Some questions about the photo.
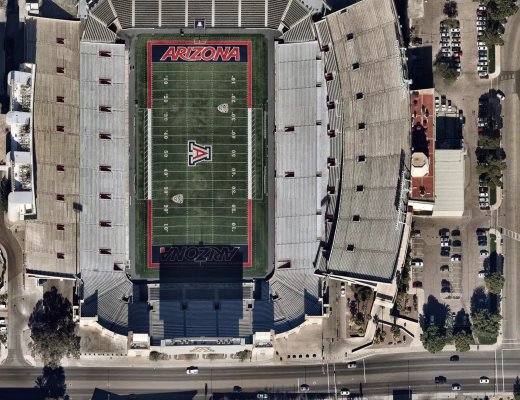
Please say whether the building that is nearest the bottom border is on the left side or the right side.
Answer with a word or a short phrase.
right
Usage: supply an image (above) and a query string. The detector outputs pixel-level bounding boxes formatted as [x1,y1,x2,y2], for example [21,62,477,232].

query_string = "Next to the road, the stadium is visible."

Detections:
[18,0,415,355]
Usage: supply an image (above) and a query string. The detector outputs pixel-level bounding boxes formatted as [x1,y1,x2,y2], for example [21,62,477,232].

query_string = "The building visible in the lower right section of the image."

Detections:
[373,287,396,309]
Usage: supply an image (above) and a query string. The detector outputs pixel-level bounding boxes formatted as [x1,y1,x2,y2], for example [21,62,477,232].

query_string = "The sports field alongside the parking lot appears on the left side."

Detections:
[112,25,290,283]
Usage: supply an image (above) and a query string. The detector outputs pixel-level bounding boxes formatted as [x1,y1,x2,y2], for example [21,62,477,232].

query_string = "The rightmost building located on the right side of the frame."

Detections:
[435,149,467,216]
